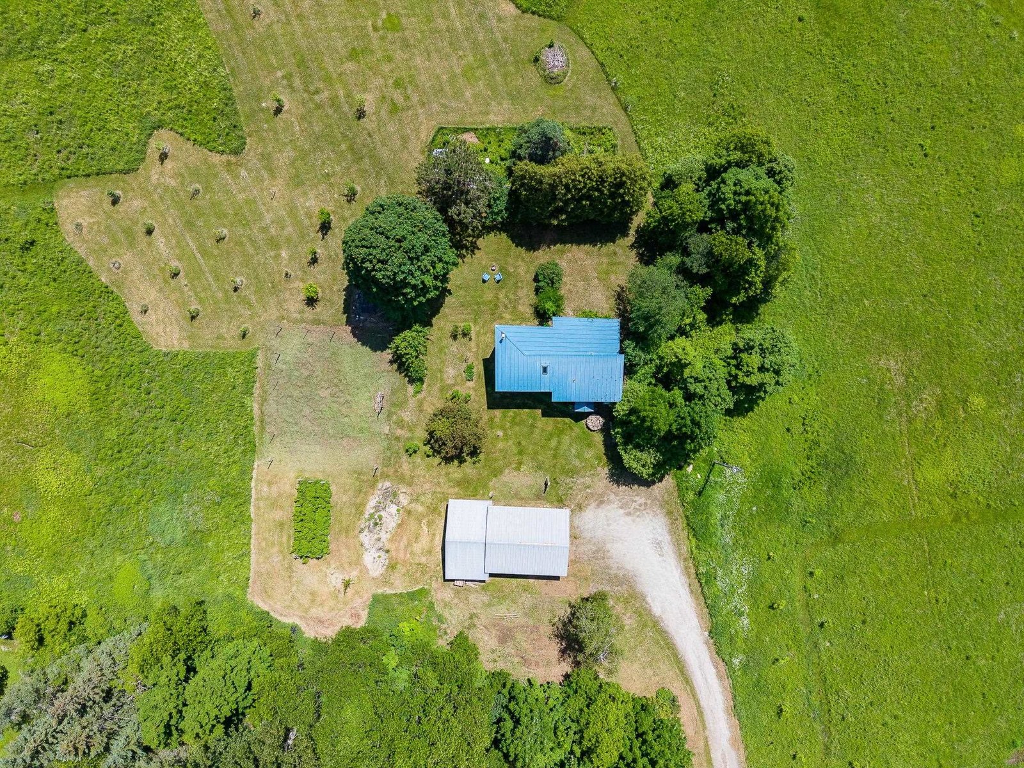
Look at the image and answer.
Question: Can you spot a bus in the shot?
No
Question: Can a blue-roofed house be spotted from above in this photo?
Yes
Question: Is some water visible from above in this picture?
No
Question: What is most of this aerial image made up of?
grass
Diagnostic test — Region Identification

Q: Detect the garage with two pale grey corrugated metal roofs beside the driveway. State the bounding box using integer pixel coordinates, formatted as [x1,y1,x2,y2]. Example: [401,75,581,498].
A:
[444,497,569,580]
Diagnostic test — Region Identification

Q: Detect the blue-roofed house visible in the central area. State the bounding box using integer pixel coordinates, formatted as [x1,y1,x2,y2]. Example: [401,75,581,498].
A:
[495,316,625,412]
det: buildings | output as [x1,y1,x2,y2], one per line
[444,497,569,580]
[495,316,625,412]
